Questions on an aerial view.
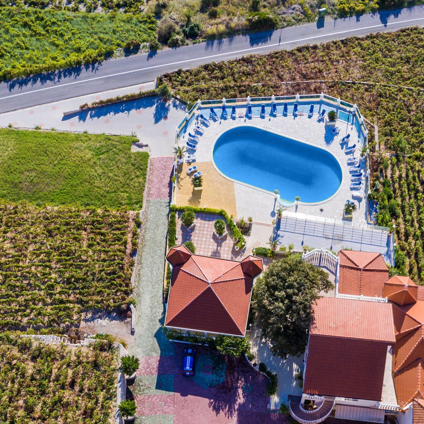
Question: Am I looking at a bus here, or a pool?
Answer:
pool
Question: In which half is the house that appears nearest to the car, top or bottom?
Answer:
bottom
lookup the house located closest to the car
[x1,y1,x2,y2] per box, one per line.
[164,244,263,340]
